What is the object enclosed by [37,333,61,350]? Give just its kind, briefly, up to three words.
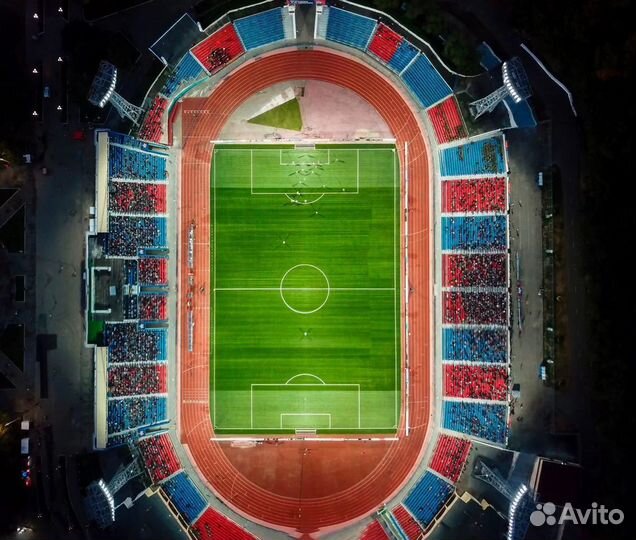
building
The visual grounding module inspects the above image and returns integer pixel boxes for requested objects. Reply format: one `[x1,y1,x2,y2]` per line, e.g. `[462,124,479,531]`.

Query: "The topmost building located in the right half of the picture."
[477,40,502,74]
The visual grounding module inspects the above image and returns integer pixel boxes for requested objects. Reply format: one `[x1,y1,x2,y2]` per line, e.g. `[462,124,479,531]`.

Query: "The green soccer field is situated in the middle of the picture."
[210,144,400,434]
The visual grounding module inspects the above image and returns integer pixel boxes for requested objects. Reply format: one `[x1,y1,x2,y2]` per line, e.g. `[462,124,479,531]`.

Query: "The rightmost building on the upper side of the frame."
[504,96,537,129]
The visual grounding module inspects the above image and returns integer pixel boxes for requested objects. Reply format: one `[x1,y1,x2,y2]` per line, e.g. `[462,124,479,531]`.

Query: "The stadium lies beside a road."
[85,4,514,540]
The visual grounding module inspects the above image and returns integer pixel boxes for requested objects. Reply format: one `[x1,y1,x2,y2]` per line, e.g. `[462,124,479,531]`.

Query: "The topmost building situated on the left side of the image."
[149,12,206,71]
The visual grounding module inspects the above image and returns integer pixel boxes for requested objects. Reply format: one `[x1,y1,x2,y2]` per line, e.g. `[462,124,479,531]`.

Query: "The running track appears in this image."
[176,45,434,540]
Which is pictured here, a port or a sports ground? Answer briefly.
sports ground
